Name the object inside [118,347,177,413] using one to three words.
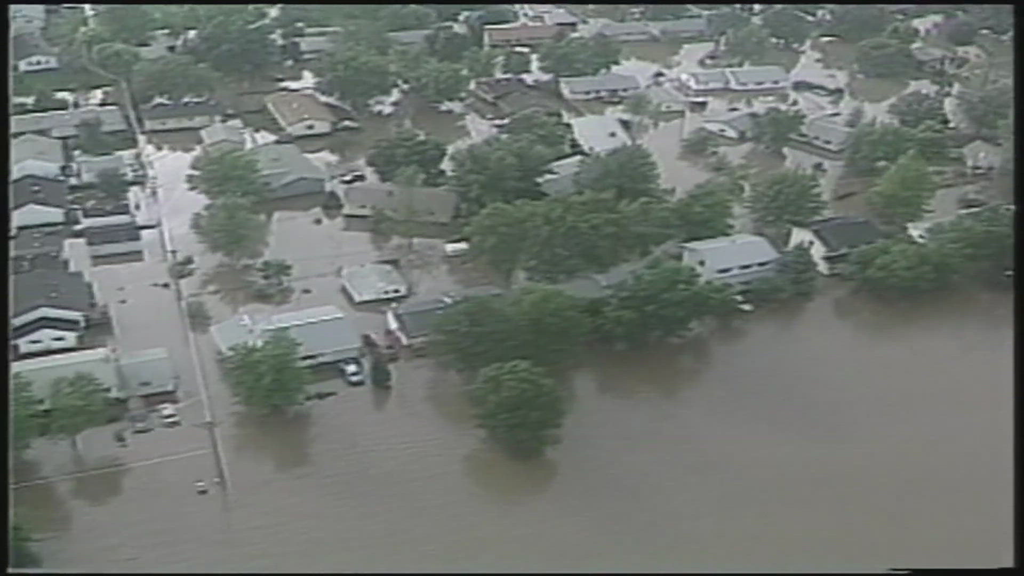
building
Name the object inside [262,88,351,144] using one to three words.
house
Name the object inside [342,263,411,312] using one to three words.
house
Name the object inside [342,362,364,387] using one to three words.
car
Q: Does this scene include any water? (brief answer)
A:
Yes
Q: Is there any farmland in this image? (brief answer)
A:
No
